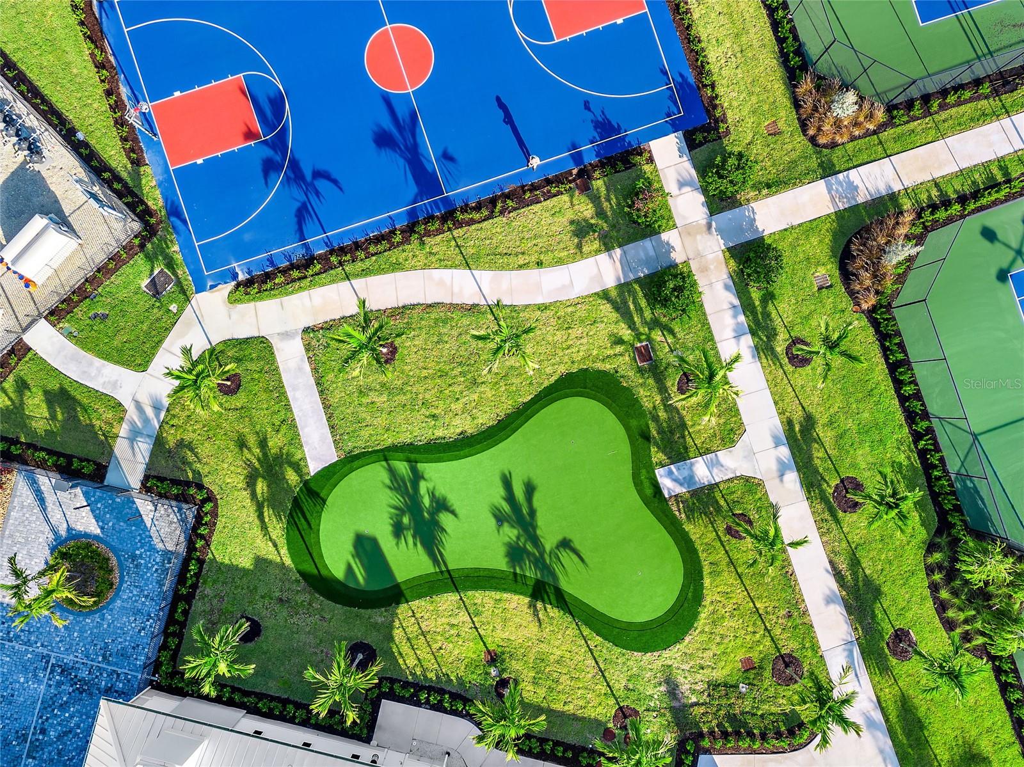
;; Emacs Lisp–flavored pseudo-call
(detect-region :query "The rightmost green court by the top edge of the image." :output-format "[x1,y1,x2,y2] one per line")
[788,0,1024,103]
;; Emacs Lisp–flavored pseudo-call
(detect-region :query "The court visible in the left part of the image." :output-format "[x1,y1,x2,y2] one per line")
[93,0,709,294]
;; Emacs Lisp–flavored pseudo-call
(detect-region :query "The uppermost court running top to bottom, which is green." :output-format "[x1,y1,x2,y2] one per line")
[894,199,1024,549]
